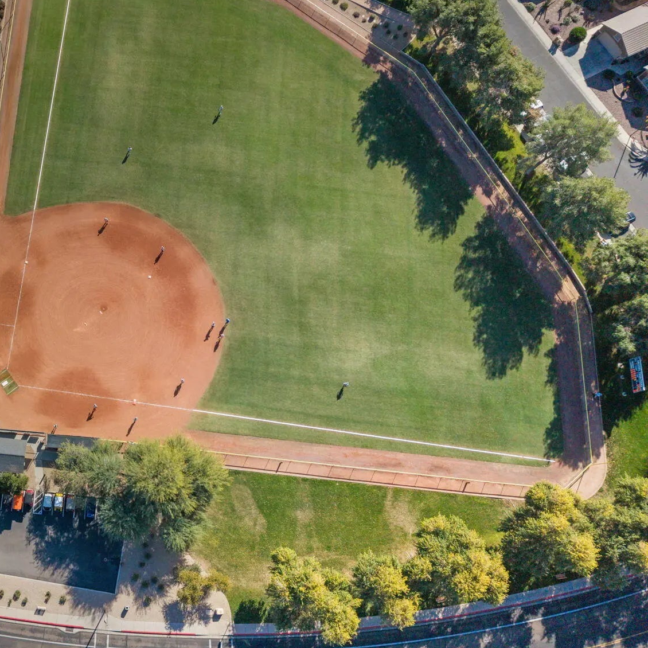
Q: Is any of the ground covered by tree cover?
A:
Yes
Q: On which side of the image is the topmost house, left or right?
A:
right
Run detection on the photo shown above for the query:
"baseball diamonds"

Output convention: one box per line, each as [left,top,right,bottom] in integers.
[0,0,608,499]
